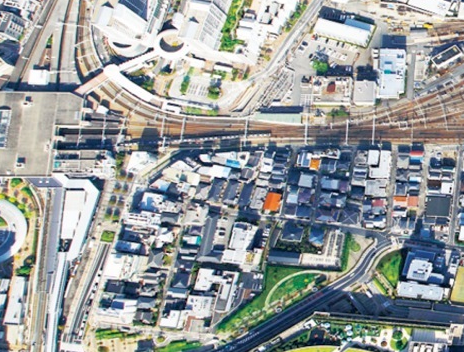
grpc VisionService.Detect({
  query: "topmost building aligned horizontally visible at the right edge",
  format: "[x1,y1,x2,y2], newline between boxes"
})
[406,0,450,19]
